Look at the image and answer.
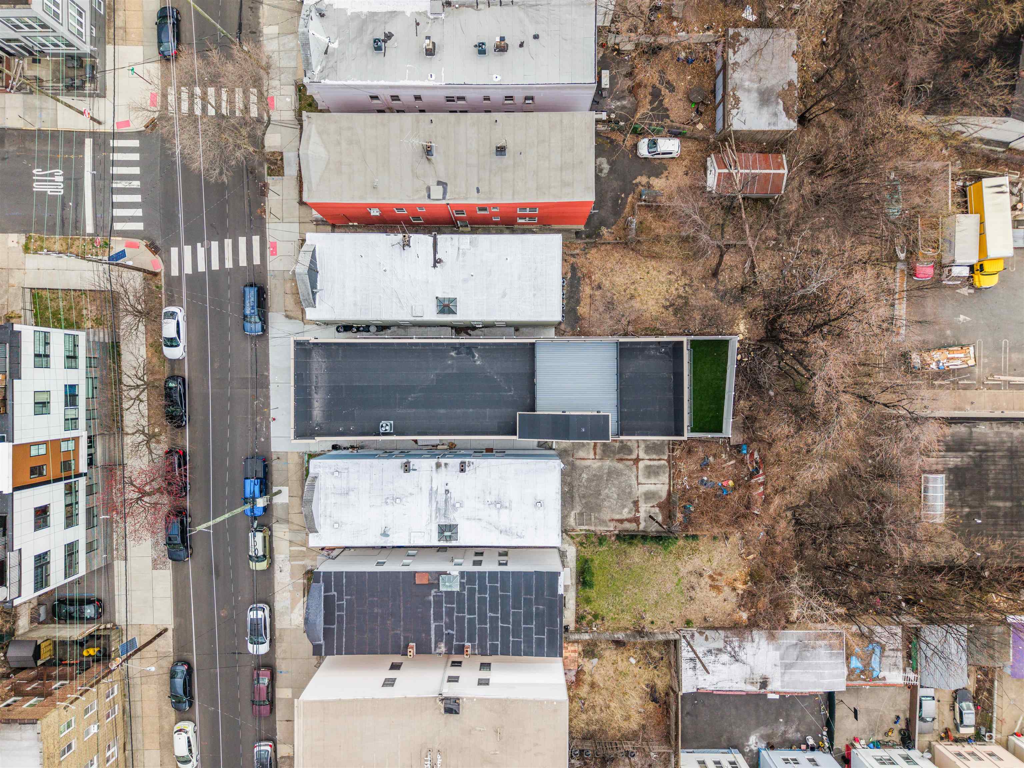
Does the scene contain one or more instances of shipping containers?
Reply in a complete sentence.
Yes, a shipping container appears in the view.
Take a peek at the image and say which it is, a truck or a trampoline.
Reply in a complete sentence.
The image shows a truck.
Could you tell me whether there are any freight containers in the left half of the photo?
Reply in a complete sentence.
No, no freight container can be made out in the left half of the photo.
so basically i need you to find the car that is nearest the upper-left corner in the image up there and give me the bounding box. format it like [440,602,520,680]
[155,7,183,61]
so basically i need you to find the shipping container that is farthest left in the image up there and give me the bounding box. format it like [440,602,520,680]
[906,344,980,372]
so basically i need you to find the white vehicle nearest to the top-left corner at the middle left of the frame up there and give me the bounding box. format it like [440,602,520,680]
[160,306,188,359]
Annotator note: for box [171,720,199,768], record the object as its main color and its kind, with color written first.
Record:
white car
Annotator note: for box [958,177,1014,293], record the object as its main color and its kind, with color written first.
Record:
white truck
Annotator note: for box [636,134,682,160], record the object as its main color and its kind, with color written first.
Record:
white car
